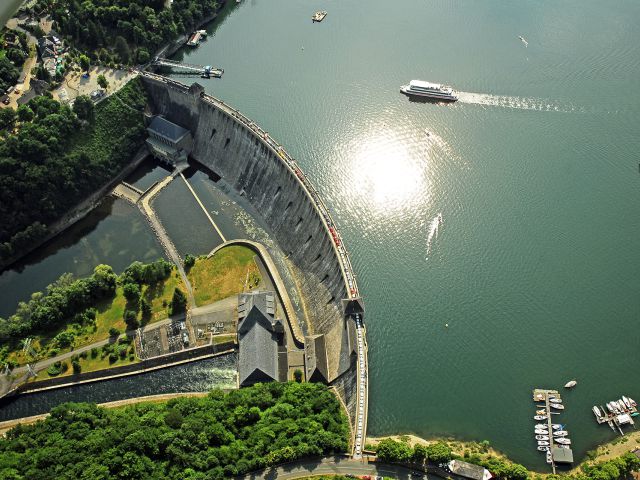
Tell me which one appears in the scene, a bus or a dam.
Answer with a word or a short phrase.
dam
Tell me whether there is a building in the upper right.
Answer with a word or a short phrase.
No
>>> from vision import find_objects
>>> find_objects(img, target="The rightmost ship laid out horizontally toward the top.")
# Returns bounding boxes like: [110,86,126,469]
[400,86,458,104]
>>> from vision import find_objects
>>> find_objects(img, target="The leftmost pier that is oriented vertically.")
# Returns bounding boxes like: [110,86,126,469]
[533,389,560,470]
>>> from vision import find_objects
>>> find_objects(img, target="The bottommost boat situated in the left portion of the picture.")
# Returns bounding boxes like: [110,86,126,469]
[187,30,204,45]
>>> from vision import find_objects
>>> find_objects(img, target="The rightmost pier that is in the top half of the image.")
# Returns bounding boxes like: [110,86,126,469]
[162,61,223,75]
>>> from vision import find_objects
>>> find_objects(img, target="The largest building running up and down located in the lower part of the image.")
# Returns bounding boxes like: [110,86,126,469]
[238,293,288,393]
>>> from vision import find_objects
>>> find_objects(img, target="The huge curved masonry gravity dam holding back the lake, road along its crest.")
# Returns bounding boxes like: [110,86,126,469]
[138,69,371,460]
